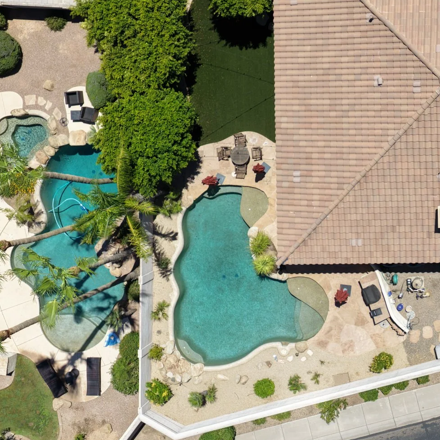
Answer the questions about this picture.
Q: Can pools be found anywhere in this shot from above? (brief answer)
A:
Yes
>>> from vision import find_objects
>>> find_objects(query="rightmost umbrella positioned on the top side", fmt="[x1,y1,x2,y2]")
[251,161,271,177]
